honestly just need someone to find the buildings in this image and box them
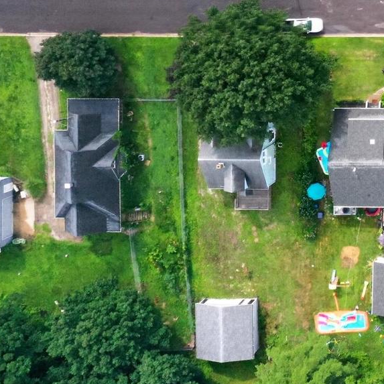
[195,299,259,363]
[0,177,15,252]
[53,98,128,237]
[329,107,384,209]
[371,259,384,316]
[197,125,276,192]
